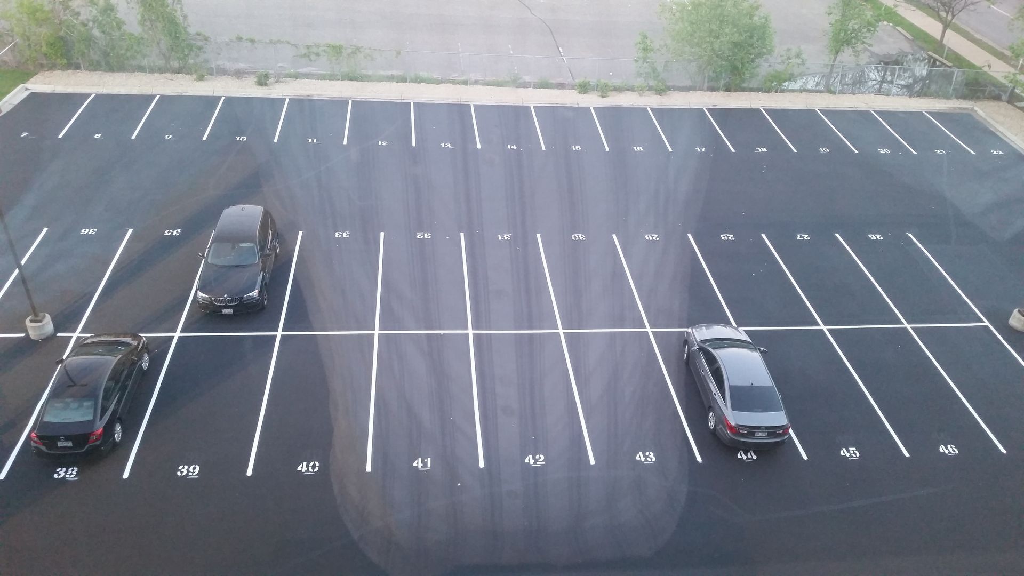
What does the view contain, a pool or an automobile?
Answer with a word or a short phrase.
automobile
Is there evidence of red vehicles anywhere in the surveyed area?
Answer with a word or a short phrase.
No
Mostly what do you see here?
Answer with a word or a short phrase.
paved ground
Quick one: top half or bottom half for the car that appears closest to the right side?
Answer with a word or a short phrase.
bottom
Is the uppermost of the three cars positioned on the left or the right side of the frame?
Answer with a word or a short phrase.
left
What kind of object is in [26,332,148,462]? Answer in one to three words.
car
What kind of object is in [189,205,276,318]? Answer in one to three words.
car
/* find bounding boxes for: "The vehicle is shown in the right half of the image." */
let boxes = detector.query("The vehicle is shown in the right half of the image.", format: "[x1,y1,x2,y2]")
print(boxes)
[682,324,797,451]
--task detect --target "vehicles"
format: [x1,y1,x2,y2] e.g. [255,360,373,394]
[189,205,276,318]
[682,324,797,451]
[26,332,148,462]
